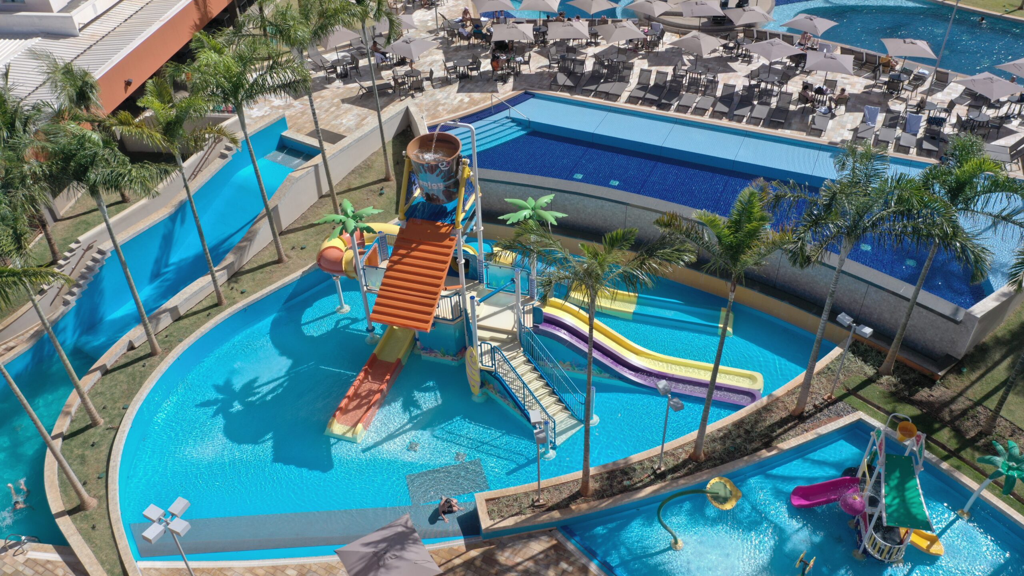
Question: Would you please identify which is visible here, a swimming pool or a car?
swimming pool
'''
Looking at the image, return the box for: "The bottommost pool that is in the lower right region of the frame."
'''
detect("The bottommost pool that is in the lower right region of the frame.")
[557,429,1024,576]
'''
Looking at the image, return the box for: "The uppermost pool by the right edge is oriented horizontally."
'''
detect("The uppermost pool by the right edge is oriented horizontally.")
[771,0,1024,85]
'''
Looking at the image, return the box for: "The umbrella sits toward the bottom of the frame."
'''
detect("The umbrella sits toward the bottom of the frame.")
[328,511,463,576]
